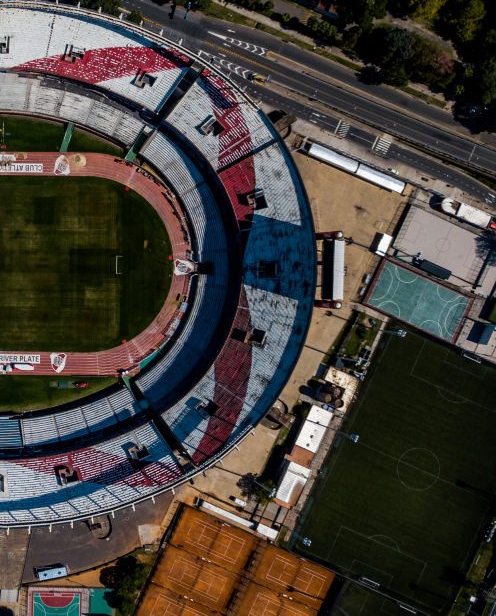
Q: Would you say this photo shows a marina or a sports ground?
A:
sports ground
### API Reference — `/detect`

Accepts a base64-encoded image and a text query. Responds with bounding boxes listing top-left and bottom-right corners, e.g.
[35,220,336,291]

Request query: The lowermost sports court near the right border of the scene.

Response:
[362,255,476,346]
